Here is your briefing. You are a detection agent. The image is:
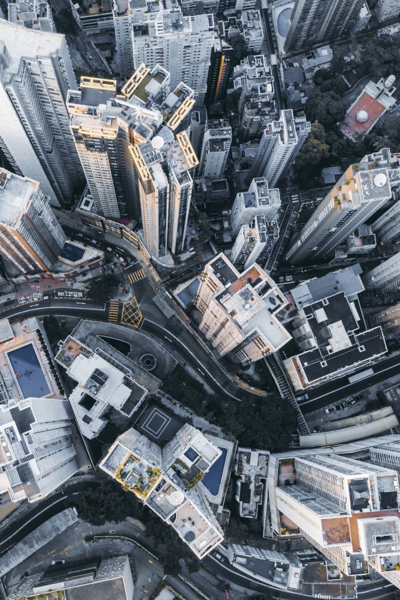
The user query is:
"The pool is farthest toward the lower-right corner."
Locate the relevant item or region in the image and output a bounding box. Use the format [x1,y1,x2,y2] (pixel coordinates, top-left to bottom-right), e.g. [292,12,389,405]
[196,446,229,498]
